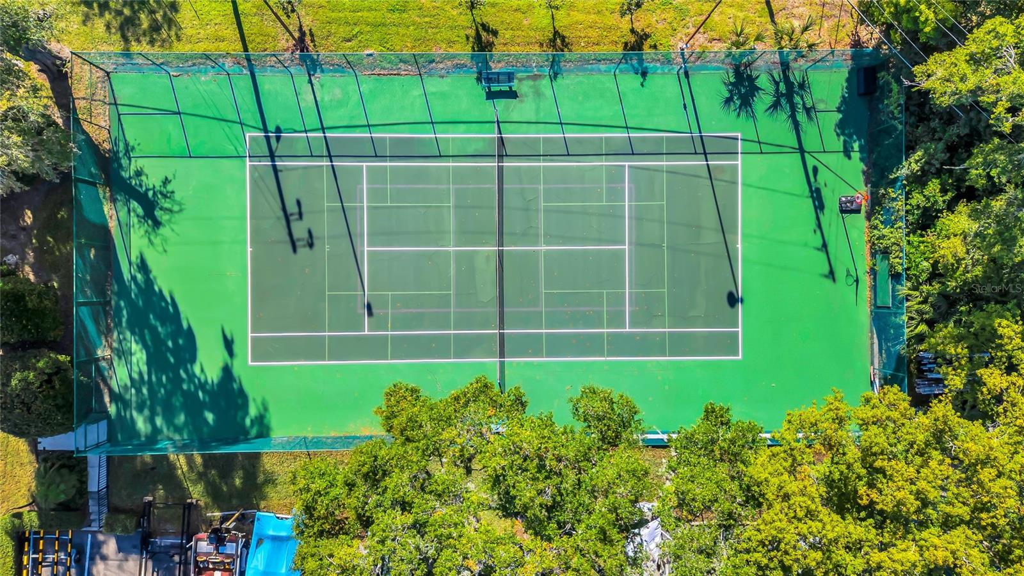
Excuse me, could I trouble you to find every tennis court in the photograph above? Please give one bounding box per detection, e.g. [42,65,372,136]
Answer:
[106,64,871,443]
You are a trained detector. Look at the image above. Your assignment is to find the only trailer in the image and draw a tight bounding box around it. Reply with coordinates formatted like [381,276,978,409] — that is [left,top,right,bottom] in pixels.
[133,495,197,576]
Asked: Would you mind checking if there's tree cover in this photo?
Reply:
Yes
